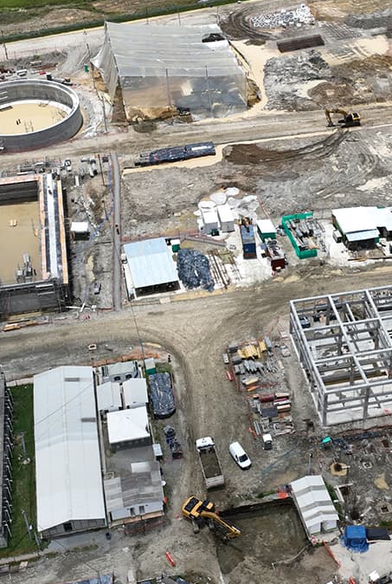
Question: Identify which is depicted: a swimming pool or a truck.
truck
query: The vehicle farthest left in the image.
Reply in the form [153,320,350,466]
[166,430,182,456]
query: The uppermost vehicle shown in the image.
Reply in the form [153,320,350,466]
[322,102,362,125]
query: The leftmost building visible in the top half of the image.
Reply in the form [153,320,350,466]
[70,221,89,239]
